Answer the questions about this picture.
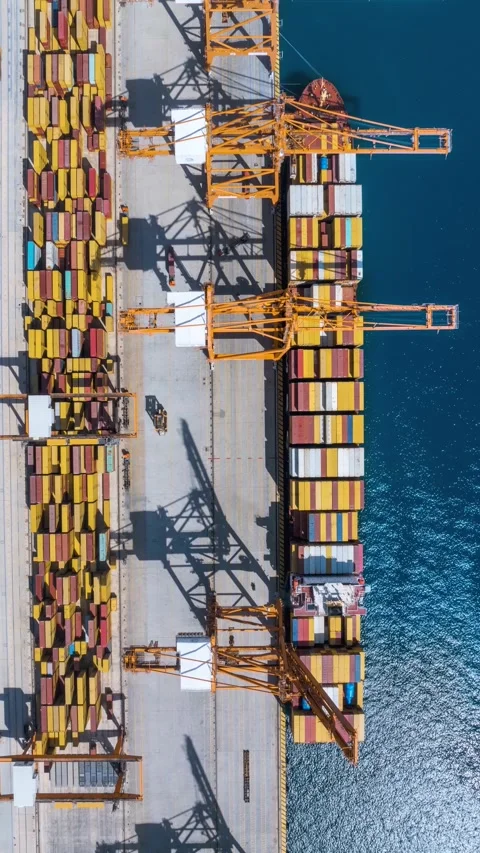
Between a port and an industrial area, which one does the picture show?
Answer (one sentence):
This looks like a port.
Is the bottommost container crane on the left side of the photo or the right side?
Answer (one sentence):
It is on the left.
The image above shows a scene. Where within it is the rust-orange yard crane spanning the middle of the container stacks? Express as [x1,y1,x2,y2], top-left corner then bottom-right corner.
[0,392,137,446]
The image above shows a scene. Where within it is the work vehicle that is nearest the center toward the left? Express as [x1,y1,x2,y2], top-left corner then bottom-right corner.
[151,409,167,437]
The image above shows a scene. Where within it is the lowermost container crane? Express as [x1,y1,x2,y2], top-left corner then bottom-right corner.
[0,728,141,807]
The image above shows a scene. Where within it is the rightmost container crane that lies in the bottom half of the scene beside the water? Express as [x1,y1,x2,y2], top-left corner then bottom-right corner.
[122,592,355,766]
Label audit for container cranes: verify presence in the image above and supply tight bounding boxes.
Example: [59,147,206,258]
[118,285,459,364]
[0,392,137,446]
[116,86,454,214]
[0,728,141,807]
[171,0,286,77]
[122,592,355,766]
